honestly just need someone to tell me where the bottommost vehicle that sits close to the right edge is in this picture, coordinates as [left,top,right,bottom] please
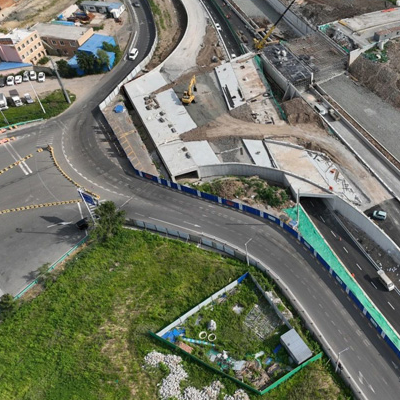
[375,266,396,290]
